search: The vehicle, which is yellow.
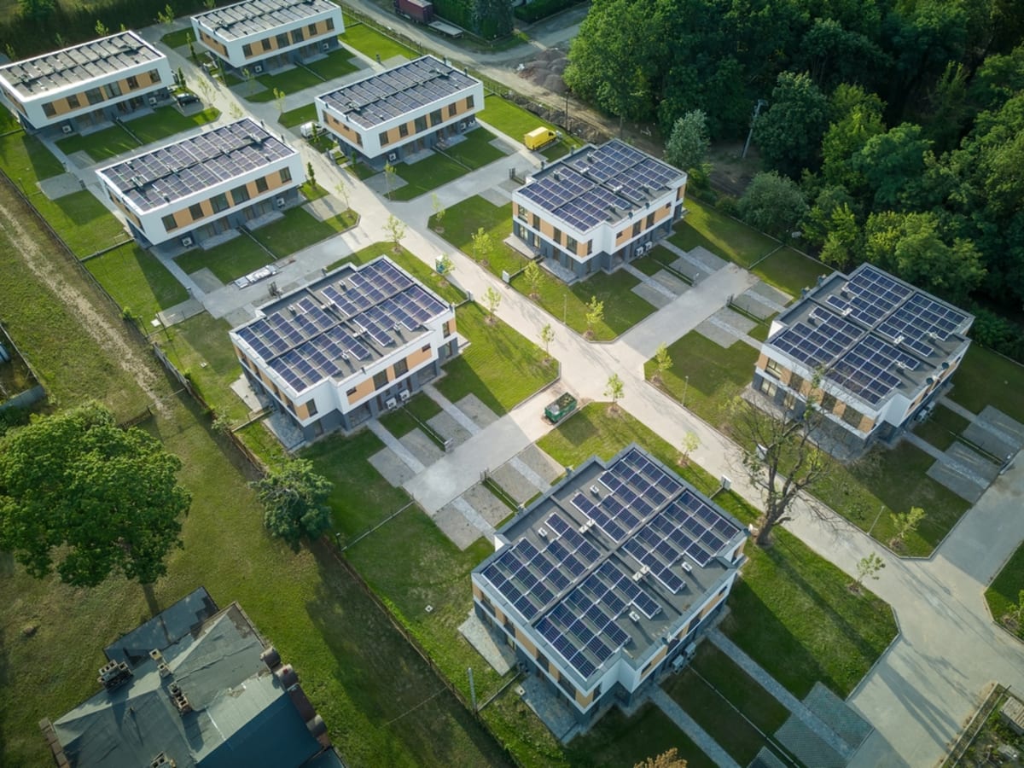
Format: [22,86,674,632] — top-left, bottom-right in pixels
[528,126,562,150]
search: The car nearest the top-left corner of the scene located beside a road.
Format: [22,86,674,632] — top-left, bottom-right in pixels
[173,93,201,107]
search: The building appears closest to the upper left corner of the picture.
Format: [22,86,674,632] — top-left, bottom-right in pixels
[0,31,177,143]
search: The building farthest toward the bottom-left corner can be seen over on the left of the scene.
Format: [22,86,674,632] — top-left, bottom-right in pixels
[31,593,341,768]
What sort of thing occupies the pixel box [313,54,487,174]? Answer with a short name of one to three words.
house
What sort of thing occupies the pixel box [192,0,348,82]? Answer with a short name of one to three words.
house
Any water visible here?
No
